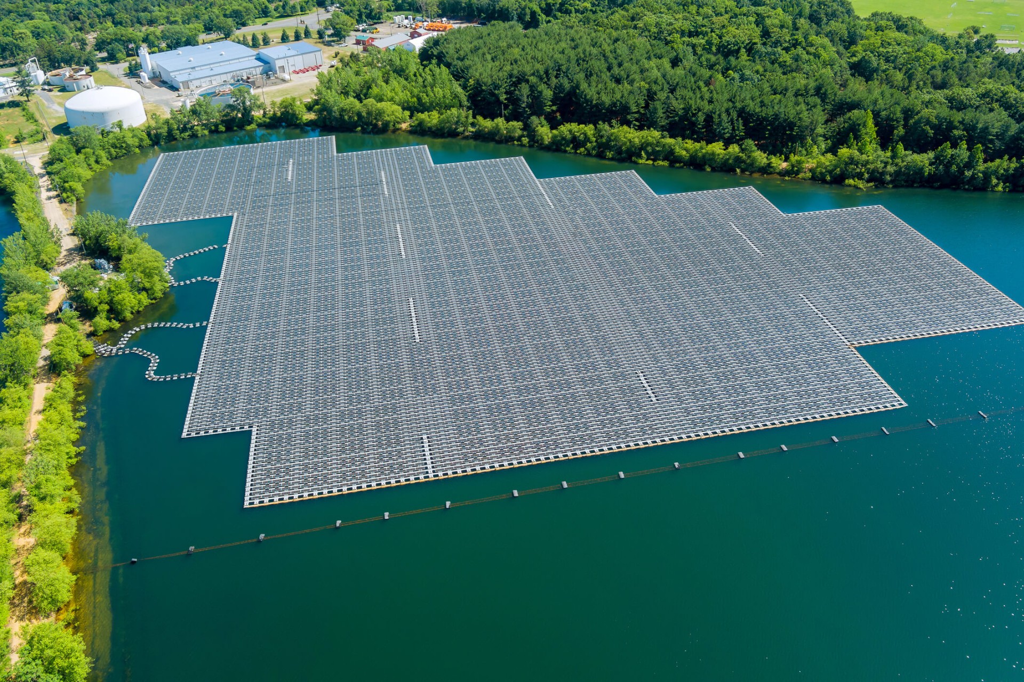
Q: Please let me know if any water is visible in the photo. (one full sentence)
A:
Yes, water can be seen from above here.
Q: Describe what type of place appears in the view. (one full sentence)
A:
It's a solar farm.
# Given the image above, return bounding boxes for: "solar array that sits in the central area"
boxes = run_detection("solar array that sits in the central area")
[129,136,1024,509]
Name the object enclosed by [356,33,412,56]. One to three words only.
barn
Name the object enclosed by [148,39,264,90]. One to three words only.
building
